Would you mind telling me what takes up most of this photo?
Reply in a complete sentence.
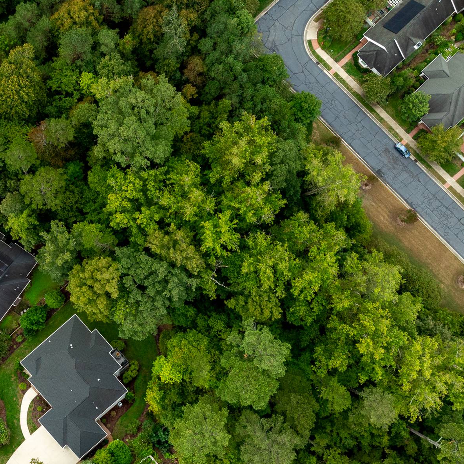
Most of the picture is covered by trees.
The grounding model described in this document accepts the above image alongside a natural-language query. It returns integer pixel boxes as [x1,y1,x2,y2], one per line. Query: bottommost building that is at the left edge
[20,313,129,458]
